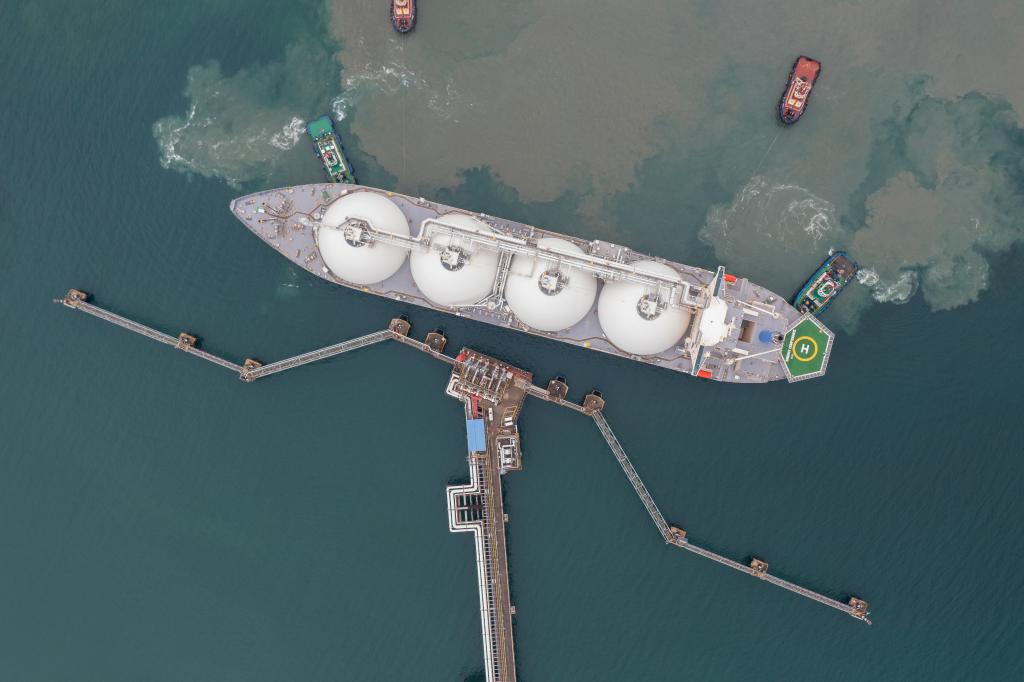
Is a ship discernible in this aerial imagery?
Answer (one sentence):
Yes, a ship is visible in the scene.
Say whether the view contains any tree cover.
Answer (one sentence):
No, there is no tree cover in the image.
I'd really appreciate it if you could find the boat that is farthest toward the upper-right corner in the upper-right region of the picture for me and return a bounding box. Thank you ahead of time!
[780,54,822,125]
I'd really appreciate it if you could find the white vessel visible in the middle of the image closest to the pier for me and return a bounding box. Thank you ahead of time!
[229,184,835,384]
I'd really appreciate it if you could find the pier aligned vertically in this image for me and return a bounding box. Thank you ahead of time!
[447,452,516,682]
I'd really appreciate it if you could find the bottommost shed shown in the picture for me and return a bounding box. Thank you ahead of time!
[467,418,486,452]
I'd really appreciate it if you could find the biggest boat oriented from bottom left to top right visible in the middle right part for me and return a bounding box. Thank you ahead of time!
[795,250,856,317]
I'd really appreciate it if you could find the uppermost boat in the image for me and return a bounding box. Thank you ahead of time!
[388,0,419,33]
